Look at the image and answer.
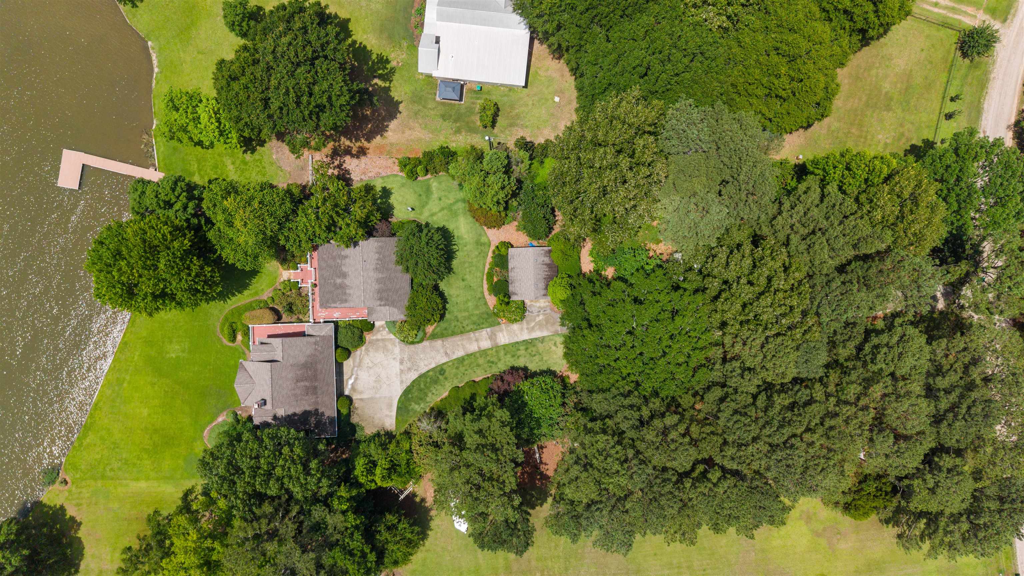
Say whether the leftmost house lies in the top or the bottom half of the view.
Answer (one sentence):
You can find the leftmost house in the bottom half.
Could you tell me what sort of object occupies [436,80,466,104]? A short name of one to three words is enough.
gazebo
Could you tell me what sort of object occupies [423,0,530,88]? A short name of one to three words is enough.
building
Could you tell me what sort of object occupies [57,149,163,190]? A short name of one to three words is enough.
pier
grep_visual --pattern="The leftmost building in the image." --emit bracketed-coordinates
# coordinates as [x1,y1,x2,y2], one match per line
[234,323,342,438]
